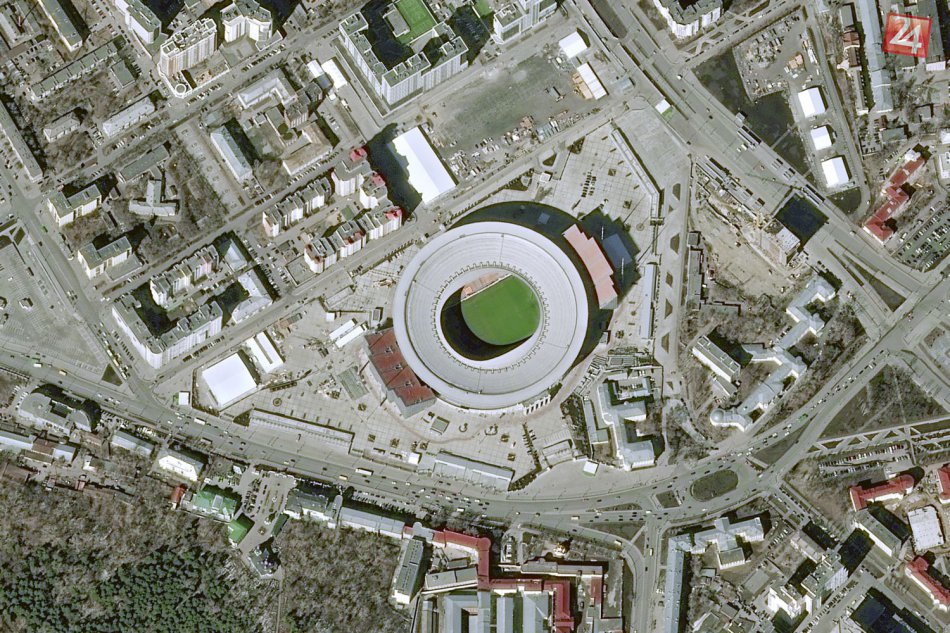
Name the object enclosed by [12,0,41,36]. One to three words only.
house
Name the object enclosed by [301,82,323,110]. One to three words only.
house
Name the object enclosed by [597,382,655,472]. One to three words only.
building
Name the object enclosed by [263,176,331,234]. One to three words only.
building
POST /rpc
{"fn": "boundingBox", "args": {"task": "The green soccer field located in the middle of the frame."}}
[443,278,539,359]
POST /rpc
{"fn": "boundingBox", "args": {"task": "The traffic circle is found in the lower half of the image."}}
[691,469,738,502]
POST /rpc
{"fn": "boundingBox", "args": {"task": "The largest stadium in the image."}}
[392,222,588,420]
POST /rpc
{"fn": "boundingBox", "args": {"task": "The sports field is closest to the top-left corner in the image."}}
[392,0,436,45]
